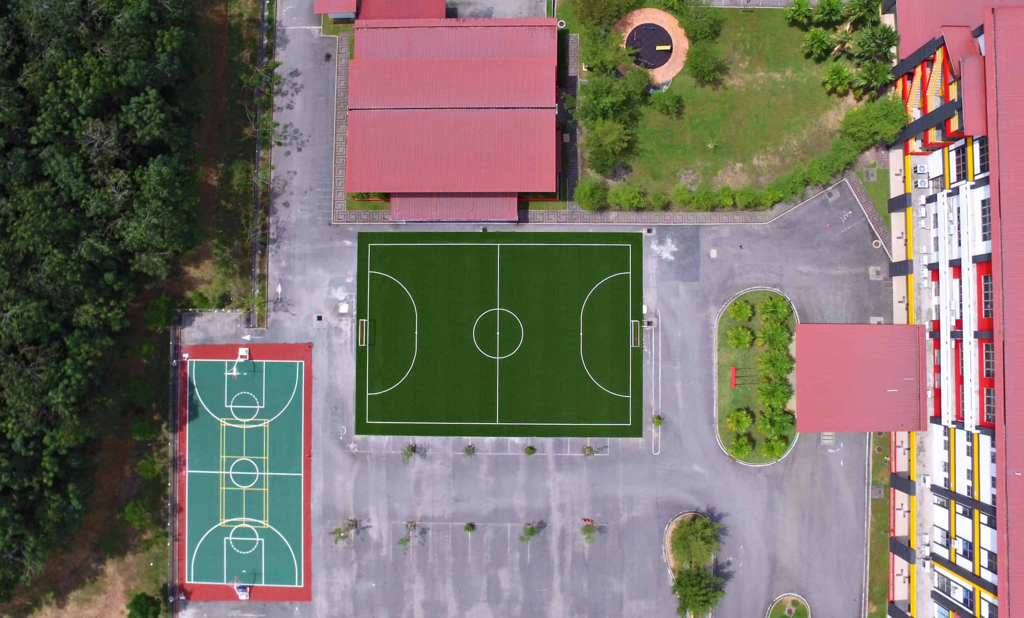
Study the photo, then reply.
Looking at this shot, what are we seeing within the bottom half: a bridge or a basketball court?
basketball court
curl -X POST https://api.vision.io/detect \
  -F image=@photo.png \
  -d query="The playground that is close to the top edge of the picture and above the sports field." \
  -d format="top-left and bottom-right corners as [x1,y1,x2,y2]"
[614,8,689,83]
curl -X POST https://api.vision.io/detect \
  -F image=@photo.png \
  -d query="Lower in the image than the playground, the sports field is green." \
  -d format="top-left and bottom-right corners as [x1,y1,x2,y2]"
[354,231,644,439]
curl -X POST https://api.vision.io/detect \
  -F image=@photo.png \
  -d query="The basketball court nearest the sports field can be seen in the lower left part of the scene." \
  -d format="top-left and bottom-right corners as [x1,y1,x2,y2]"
[179,343,312,601]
